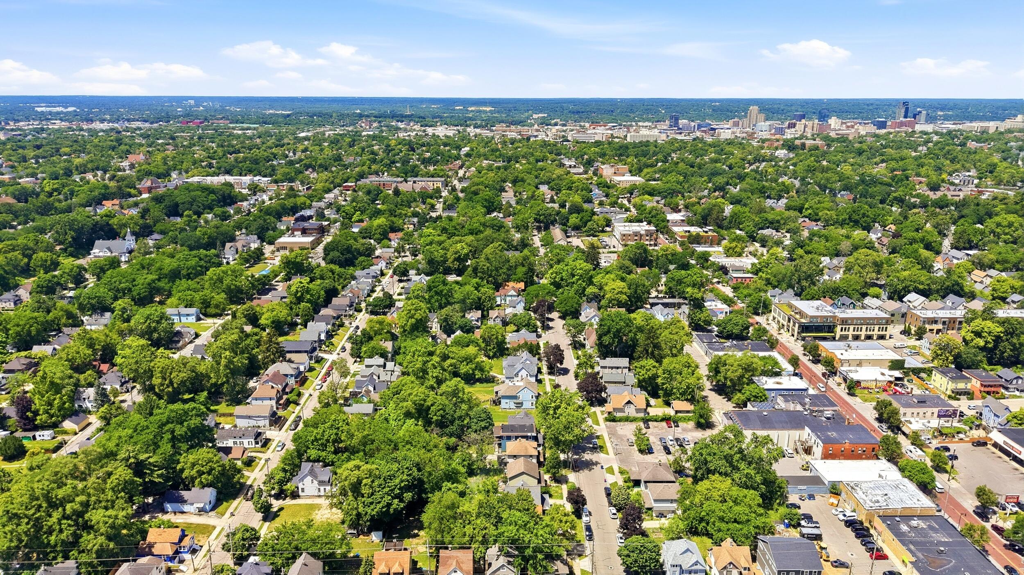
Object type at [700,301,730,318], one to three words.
building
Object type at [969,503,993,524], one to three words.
vehicle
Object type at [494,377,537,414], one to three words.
house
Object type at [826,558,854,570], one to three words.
vehicle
